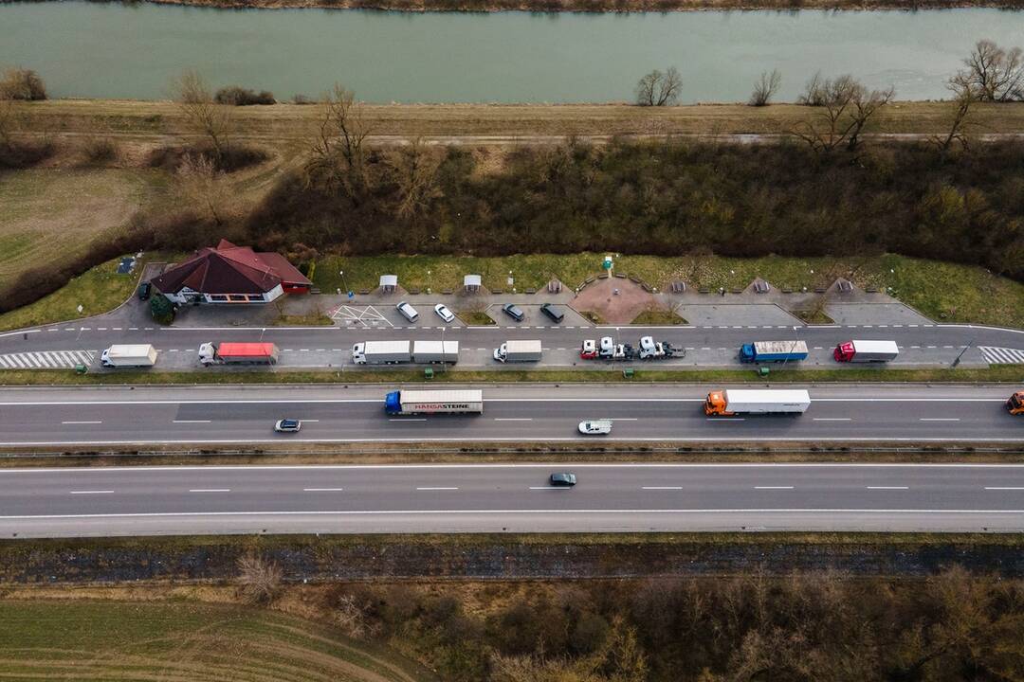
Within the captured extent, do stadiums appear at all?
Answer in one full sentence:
No, I can see no stadium in this picture.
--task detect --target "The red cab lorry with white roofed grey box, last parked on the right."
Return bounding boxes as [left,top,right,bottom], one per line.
[832,338,900,362]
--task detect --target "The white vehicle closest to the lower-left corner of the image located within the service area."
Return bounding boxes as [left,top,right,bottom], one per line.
[98,342,159,366]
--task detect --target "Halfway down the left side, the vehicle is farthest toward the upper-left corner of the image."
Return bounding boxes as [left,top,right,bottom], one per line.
[136,283,154,301]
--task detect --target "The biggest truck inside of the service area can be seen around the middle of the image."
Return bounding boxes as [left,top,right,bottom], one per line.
[350,339,457,364]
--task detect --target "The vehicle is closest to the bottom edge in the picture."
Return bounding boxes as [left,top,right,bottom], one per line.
[549,472,577,486]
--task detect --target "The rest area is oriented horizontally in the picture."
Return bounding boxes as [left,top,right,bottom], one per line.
[0,261,1024,373]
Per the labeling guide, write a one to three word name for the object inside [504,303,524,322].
car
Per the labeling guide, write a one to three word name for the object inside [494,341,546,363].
truck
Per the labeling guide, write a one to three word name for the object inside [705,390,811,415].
truck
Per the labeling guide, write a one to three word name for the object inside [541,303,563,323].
vehicle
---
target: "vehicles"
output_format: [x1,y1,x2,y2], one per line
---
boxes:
[549,472,577,486]
[602,340,641,362]
[98,342,159,366]
[435,303,453,322]
[705,390,811,415]
[581,342,618,363]
[384,389,482,414]
[641,339,690,363]
[1006,392,1024,415]
[579,420,615,434]
[273,419,300,433]
[541,303,563,323]
[832,338,900,362]
[398,302,417,322]
[350,339,457,364]
[738,339,808,363]
[136,283,154,301]
[504,303,524,322]
[197,342,278,365]
[494,341,546,363]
